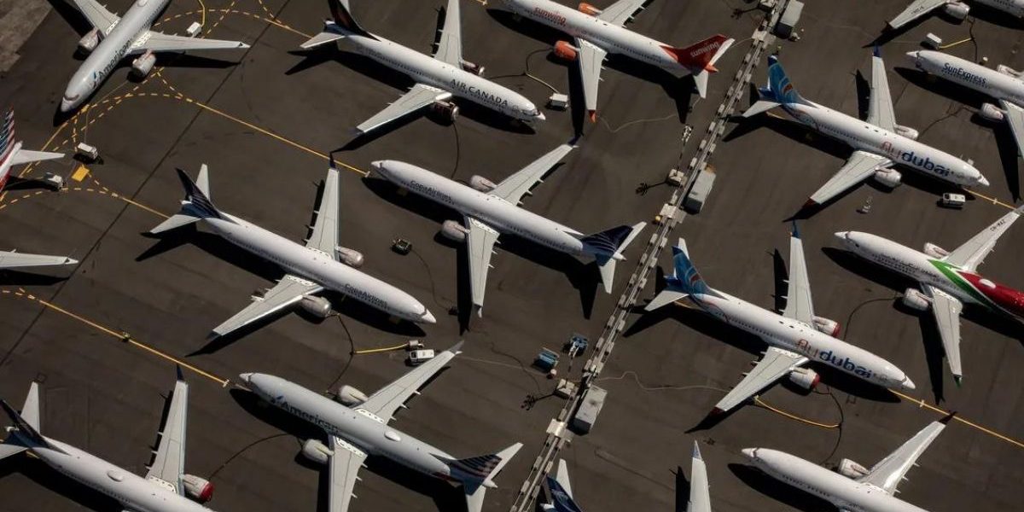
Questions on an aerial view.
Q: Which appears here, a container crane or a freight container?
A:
freight container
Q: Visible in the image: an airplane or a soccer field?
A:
airplane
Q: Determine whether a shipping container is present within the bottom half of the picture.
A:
Yes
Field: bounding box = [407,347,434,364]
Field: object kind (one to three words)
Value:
vehicle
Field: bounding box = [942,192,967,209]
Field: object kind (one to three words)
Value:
vehicle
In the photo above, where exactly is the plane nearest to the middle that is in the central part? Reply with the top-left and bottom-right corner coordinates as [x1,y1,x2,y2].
[371,132,646,317]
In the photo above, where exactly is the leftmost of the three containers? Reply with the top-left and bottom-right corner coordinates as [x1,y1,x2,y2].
[574,385,608,434]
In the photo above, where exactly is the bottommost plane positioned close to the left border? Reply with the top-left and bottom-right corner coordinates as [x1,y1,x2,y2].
[0,364,218,512]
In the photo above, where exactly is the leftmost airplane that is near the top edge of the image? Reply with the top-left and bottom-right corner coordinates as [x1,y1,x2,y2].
[61,0,248,111]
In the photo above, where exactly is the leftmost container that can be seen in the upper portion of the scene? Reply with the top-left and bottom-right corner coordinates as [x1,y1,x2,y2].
[685,171,716,211]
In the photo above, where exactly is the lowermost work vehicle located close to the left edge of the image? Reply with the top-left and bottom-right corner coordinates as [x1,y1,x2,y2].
[43,173,65,190]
